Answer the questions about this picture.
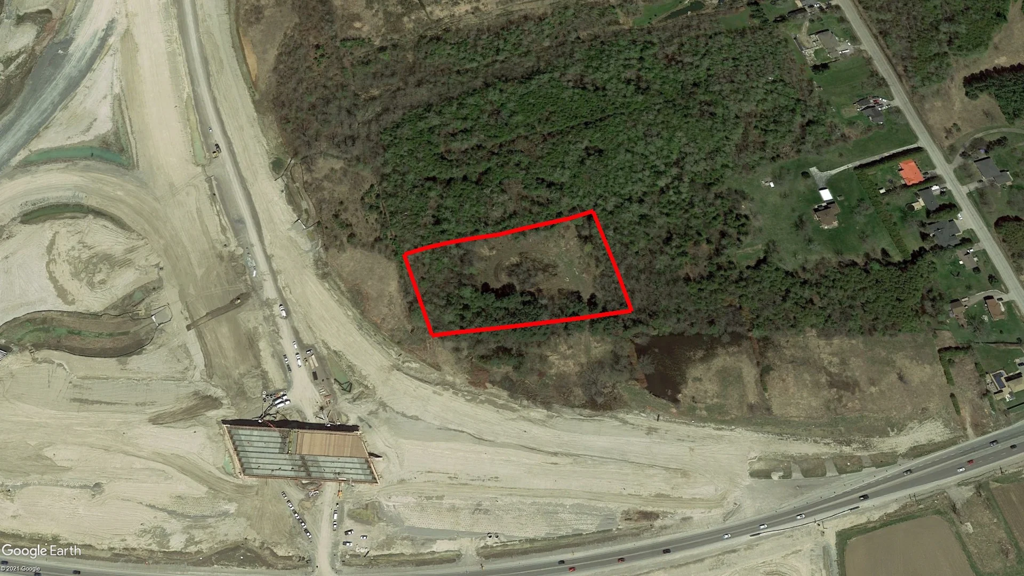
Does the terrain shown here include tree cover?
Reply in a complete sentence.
Yes, there is tree cover in the image.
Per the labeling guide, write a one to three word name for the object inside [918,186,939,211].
house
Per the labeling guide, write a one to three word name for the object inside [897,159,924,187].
house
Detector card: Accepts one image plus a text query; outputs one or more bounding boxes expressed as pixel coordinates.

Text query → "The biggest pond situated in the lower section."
[631,331,756,404]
